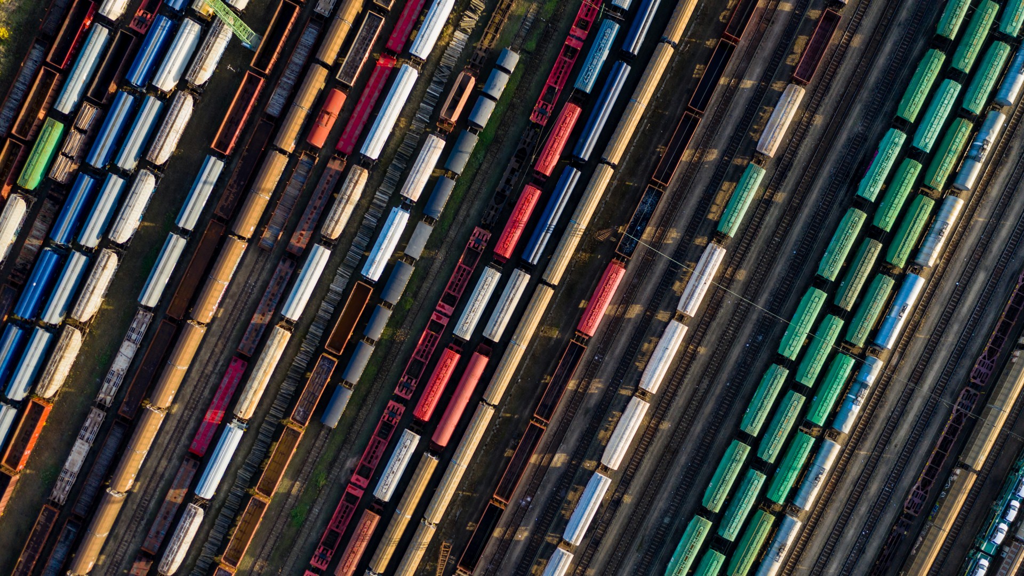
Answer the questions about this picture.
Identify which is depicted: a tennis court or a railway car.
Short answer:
railway car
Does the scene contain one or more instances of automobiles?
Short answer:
Yes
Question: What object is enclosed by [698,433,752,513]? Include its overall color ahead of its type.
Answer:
green rail car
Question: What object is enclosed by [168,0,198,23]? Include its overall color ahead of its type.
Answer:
blue rail car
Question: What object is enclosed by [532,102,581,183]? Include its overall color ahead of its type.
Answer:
red rail car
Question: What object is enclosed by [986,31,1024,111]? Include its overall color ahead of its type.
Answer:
blue rail car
